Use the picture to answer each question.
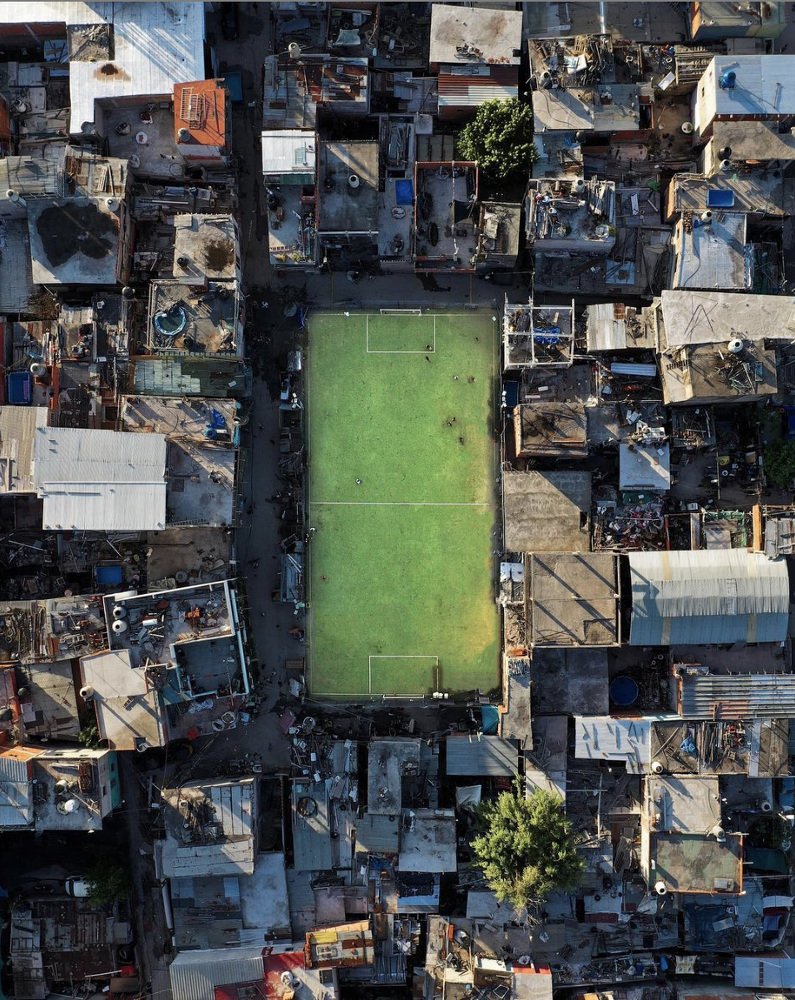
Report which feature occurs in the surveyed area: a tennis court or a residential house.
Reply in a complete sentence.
Visible in the photo is a residential house.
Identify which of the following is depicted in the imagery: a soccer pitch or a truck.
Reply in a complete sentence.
Visible in the photo is a soccer pitch.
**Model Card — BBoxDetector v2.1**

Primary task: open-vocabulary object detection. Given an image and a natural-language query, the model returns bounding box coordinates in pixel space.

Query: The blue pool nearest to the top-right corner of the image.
[706,190,733,208]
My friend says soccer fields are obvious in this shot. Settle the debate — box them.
[306,309,502,699]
